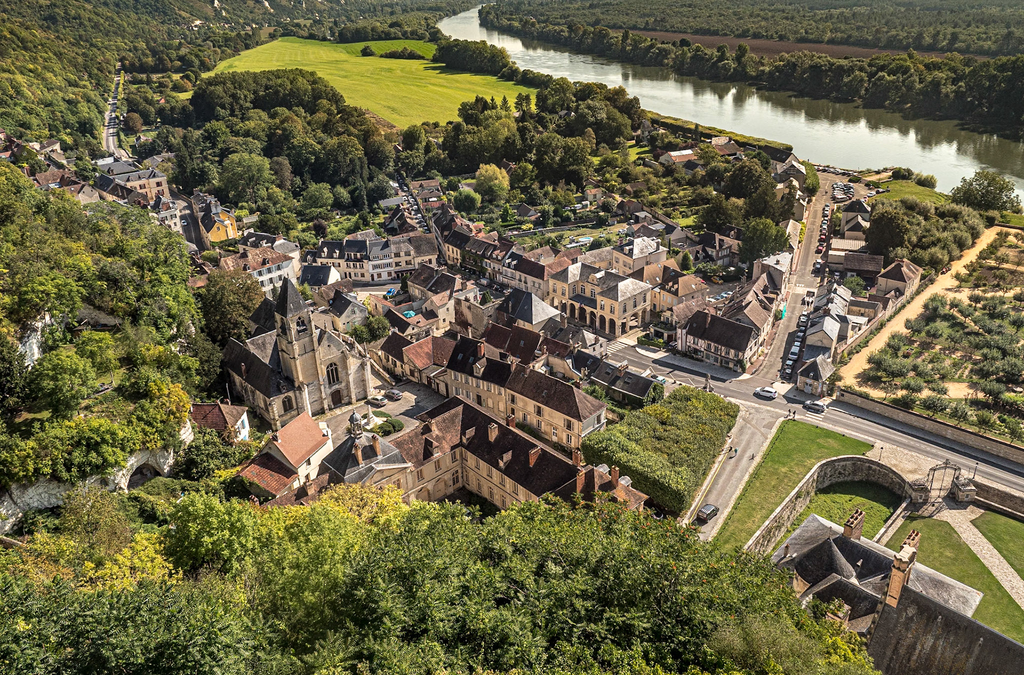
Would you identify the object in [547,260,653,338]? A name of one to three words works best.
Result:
building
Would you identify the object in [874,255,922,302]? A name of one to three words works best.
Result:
house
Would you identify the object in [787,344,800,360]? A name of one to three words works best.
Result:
vehicle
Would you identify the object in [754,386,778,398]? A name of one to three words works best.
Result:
vehicle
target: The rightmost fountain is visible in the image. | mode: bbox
[699,370,717,392]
